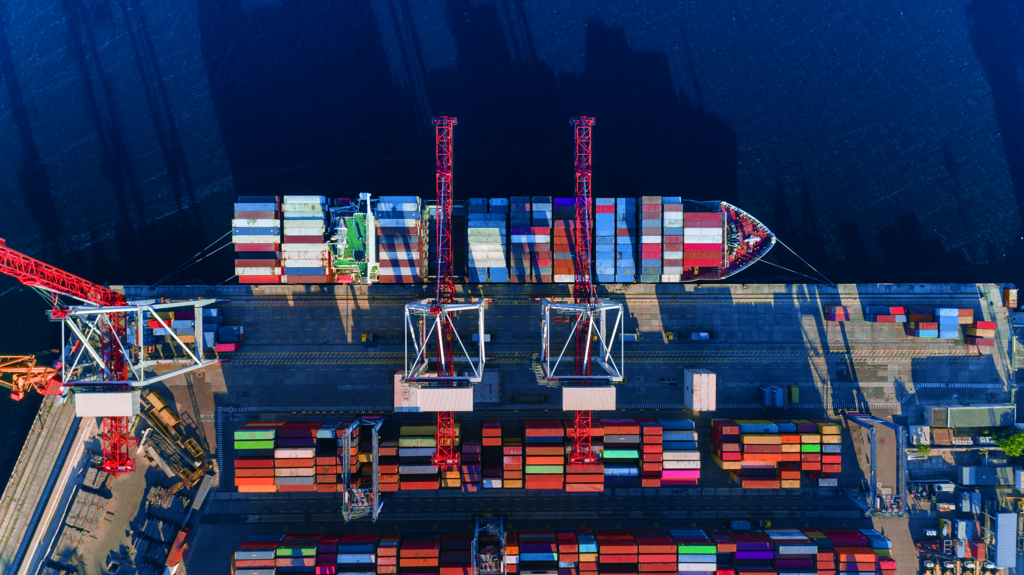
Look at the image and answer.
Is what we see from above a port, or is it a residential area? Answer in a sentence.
The area seen from above is a port.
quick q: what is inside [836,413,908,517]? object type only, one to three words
container crane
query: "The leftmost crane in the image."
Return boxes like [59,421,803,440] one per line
[0,348,102,403]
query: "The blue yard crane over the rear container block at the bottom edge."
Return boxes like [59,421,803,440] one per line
[468,514,510,575]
